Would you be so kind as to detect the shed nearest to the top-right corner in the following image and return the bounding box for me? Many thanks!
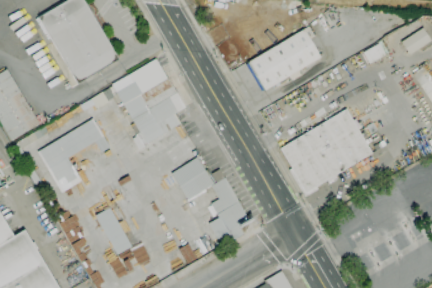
[401,28,432,54]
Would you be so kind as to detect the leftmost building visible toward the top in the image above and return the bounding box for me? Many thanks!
[0,70,40,142]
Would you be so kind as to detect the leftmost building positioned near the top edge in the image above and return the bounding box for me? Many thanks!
[38,0,117,81]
